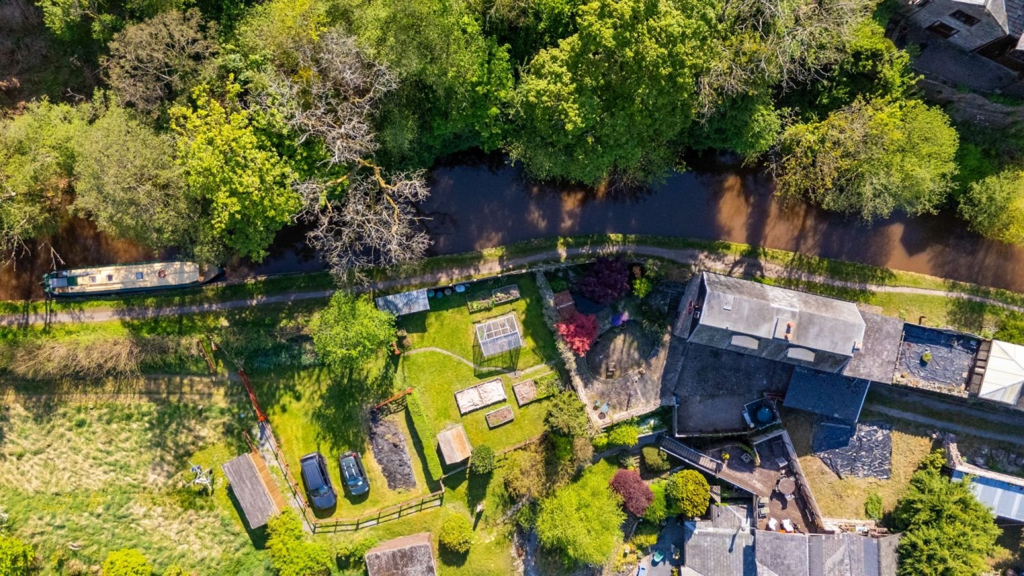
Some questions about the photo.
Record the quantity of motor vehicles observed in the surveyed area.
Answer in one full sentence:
I count 2 motor vehicles.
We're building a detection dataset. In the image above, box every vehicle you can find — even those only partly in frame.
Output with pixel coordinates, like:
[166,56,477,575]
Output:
[300,449,338,511]
[339,447,370,498]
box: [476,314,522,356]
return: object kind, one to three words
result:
greenhouse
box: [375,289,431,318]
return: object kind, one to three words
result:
shed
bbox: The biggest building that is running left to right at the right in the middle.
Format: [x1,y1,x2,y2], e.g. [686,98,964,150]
[684,270,867,374]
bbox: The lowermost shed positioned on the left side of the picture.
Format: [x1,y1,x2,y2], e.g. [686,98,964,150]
[366,533,439,576]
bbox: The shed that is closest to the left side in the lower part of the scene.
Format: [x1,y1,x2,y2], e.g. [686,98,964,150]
[222,449,289,529]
